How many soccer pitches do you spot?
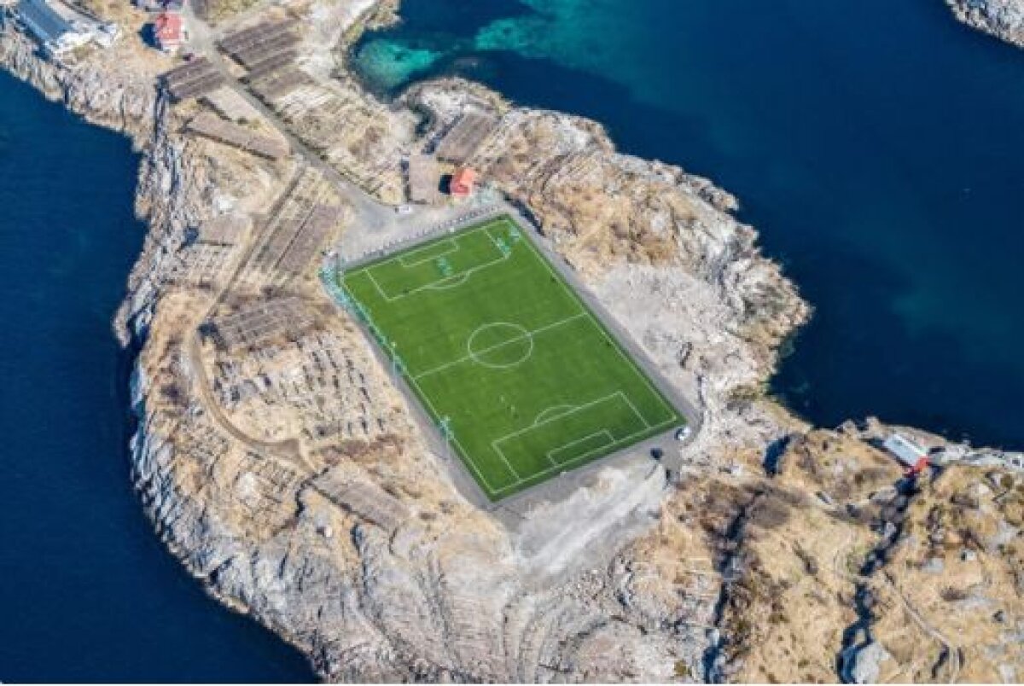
1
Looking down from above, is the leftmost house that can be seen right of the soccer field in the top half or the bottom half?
bottom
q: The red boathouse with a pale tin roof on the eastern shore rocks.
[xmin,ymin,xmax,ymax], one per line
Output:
[882,429,938,472]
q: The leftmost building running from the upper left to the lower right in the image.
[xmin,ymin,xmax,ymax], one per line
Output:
[9,0,75,53]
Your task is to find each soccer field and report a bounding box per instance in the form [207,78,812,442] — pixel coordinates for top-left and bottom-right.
[335,215,687,503]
